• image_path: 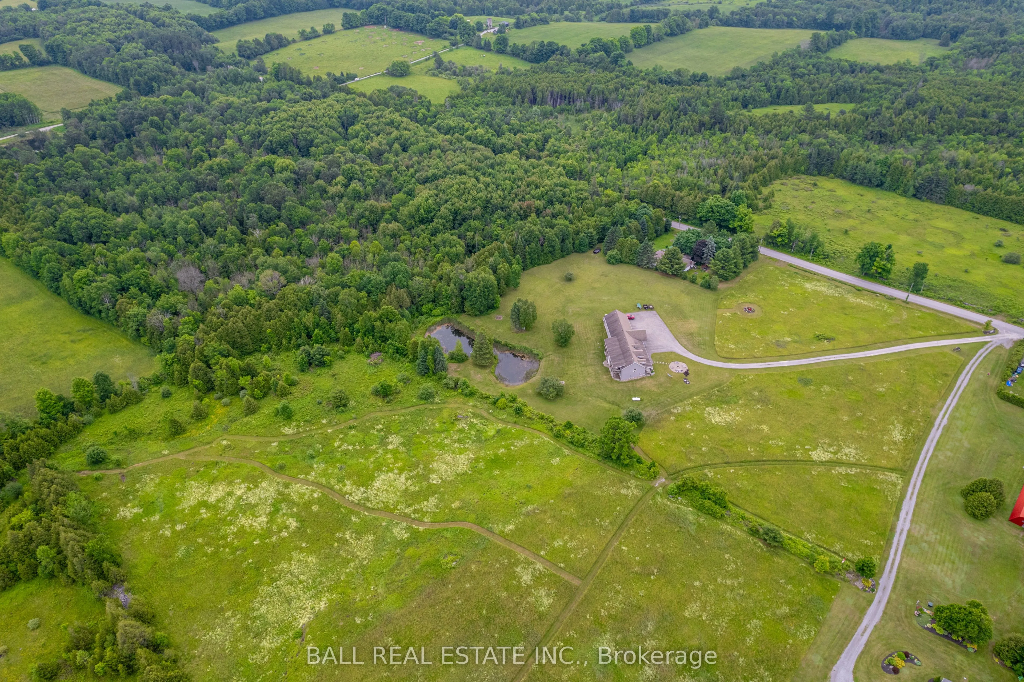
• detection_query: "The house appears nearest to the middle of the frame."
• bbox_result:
[599,310,655,378]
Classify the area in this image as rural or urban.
rural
